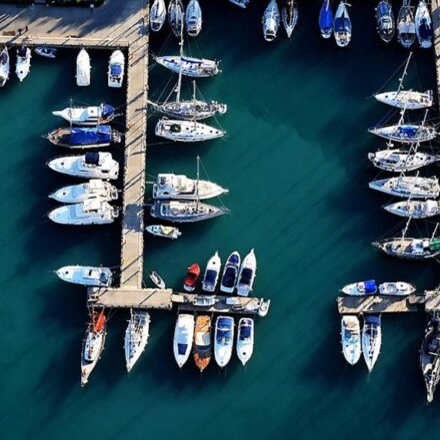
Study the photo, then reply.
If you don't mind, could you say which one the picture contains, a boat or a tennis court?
boat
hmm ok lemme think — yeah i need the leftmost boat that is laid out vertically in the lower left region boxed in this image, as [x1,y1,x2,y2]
[82,301,104,391]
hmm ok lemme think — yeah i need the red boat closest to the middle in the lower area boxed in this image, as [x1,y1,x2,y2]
[185,262,200,295]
